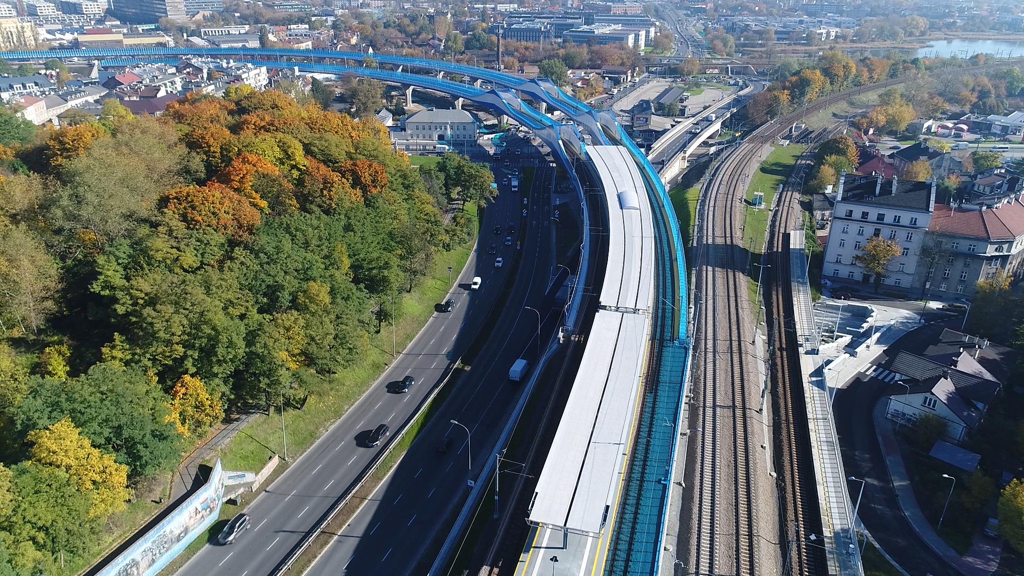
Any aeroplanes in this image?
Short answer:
No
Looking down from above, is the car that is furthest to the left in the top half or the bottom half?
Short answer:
bottom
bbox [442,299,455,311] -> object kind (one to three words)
vehicle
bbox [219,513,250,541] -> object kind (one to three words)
car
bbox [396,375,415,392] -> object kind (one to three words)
car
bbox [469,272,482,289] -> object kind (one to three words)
vehicle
